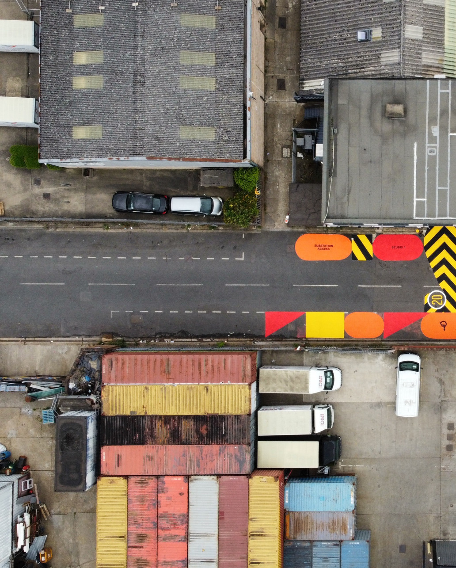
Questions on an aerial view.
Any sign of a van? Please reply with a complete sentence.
Yes, a van can be made out from above.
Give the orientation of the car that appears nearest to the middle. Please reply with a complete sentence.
The car that appears nearest to the middle is laid out from side to side.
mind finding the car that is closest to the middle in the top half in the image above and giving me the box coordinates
[171,195,224,219]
